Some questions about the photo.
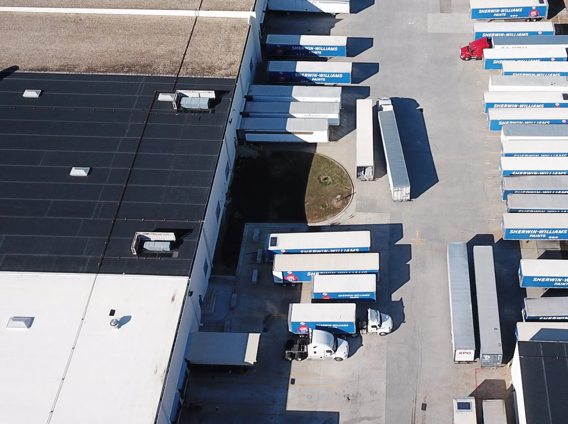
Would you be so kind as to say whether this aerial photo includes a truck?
Yes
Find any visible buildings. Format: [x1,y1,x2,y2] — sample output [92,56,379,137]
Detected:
[0,0,268,424]
[513,341,568,424]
